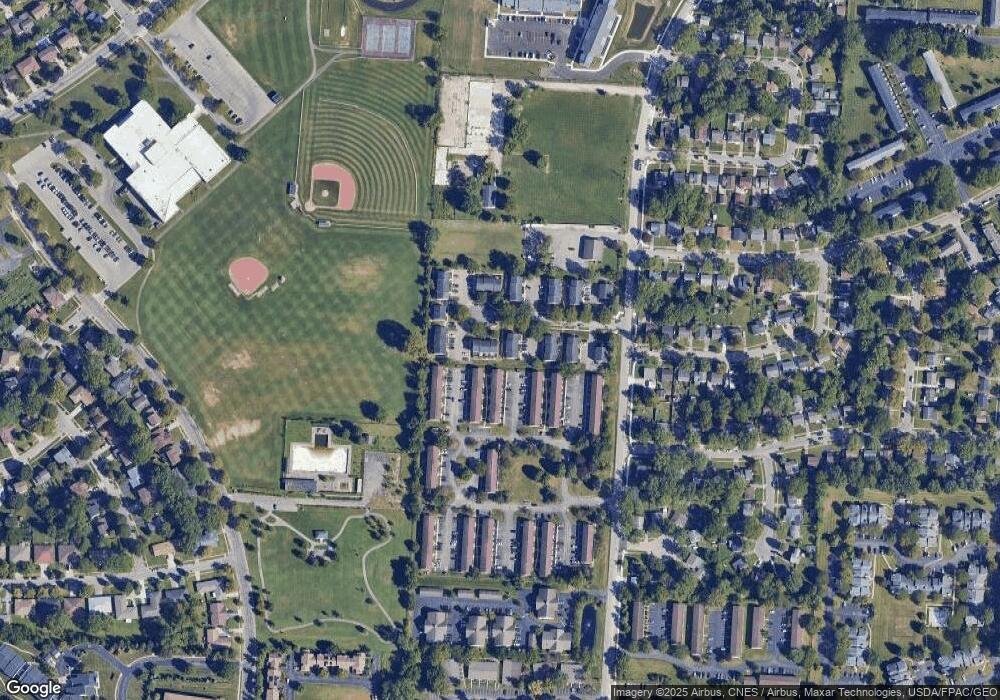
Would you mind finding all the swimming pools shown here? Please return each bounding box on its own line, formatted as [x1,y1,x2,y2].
[286,427,354,492]
[926,603,954,628]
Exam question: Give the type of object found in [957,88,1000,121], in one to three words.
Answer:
building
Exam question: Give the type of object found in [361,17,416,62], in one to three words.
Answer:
tennis court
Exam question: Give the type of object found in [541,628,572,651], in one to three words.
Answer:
house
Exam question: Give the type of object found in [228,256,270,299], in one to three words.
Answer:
baseball field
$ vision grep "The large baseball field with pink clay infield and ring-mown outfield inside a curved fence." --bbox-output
[296,60,436,230]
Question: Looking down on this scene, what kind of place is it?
residential area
